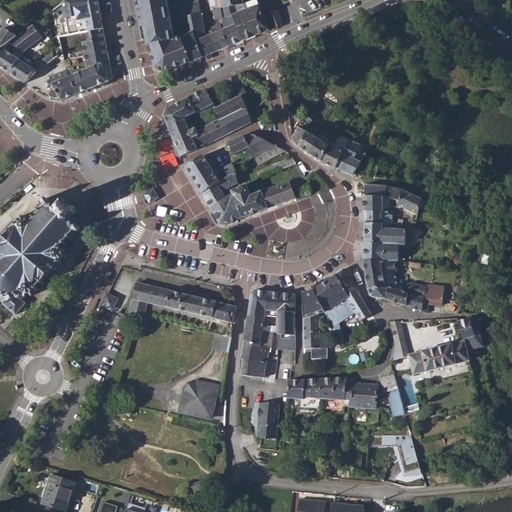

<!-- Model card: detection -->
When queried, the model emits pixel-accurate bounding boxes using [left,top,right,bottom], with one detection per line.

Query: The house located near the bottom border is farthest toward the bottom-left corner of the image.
[38,474,74,512]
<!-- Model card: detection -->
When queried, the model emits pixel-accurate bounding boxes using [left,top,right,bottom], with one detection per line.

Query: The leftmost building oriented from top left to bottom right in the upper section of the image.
[0,44,35,82]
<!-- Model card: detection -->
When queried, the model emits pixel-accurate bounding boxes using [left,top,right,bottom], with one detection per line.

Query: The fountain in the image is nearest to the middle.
[277,212,300,228]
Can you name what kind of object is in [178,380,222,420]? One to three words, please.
barn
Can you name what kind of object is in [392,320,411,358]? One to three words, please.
shed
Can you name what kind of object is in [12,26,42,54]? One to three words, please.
house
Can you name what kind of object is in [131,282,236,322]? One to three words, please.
building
